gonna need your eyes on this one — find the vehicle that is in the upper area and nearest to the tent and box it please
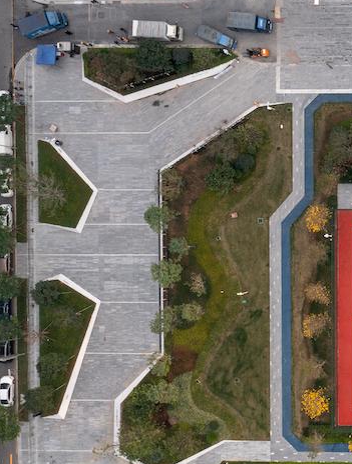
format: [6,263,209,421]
[51,37,76,53]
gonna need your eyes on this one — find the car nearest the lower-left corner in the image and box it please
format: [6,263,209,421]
[0,375,16,406]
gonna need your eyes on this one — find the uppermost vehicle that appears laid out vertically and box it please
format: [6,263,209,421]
[0,128,13,157]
